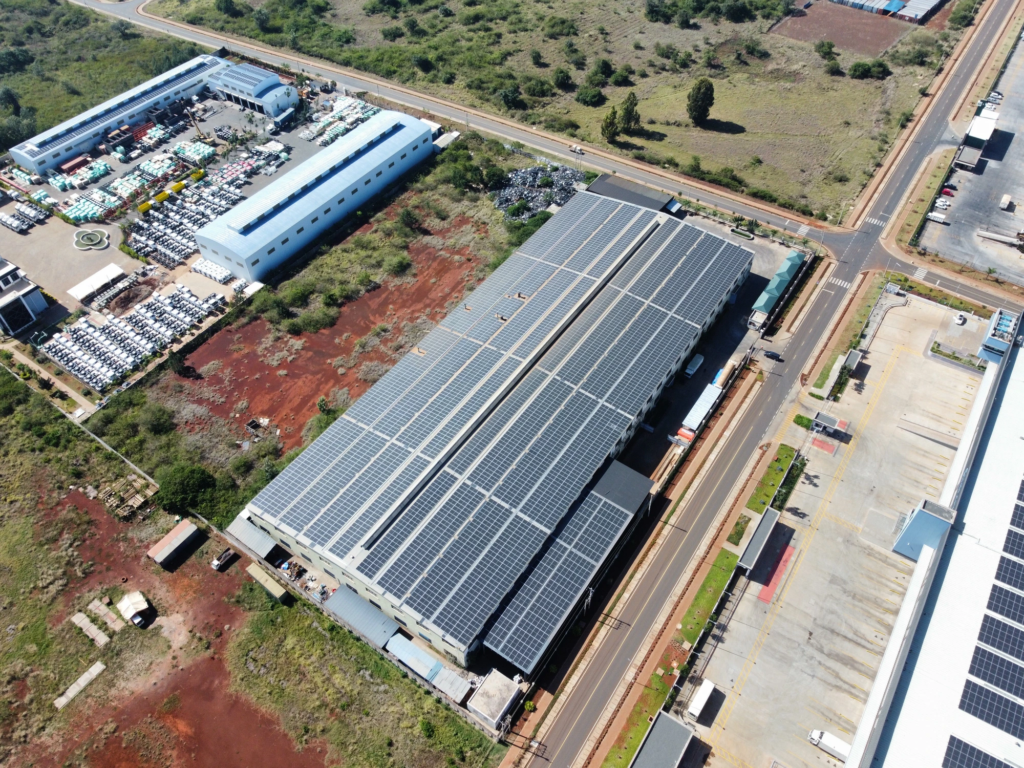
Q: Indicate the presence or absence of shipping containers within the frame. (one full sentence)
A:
Yes, the image includes a shipping container.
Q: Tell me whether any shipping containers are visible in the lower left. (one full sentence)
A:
Yes, a shipping container can be seen in the lower left.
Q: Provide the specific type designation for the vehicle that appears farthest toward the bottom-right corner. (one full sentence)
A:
I'd identify the vehicle that appears farthest toward the bottom-right corner as a truck.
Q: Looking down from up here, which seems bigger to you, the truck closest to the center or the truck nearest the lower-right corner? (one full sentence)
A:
The truck nearest the lower-right corner is larger than the truck closest to the center.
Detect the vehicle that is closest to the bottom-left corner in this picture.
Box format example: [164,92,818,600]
[125,609,147,631]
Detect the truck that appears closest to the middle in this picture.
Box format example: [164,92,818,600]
[682,349,709,378]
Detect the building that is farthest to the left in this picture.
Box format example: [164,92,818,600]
[0,254,50,344]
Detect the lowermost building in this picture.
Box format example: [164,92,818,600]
[633,711,693,768]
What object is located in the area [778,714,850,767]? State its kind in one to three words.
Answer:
truck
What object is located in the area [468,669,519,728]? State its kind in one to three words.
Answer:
shed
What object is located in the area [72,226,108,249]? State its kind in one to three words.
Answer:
fountain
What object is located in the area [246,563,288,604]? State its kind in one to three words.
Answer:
shipping container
